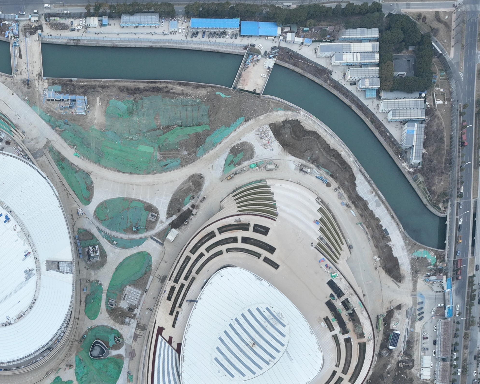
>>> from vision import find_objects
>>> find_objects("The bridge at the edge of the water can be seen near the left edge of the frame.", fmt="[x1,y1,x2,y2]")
[13,38,44,80]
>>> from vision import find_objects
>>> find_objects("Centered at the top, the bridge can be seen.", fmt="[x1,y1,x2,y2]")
[228,42,276,98]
